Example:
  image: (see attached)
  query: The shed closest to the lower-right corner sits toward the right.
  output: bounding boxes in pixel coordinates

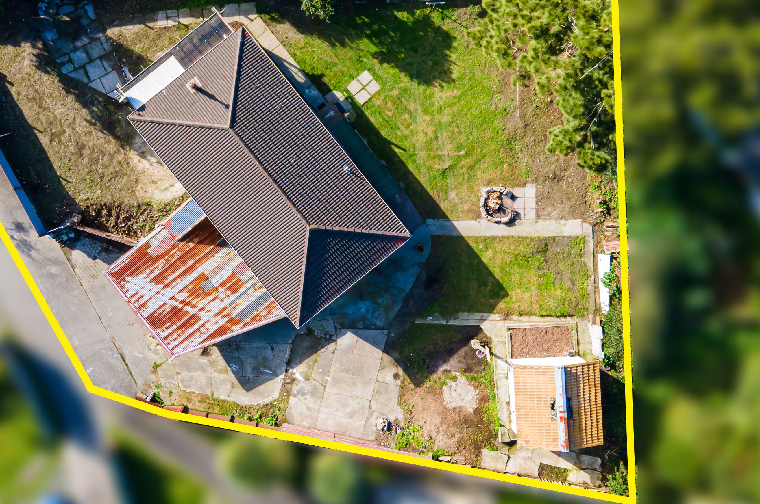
[506,354,604,455]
